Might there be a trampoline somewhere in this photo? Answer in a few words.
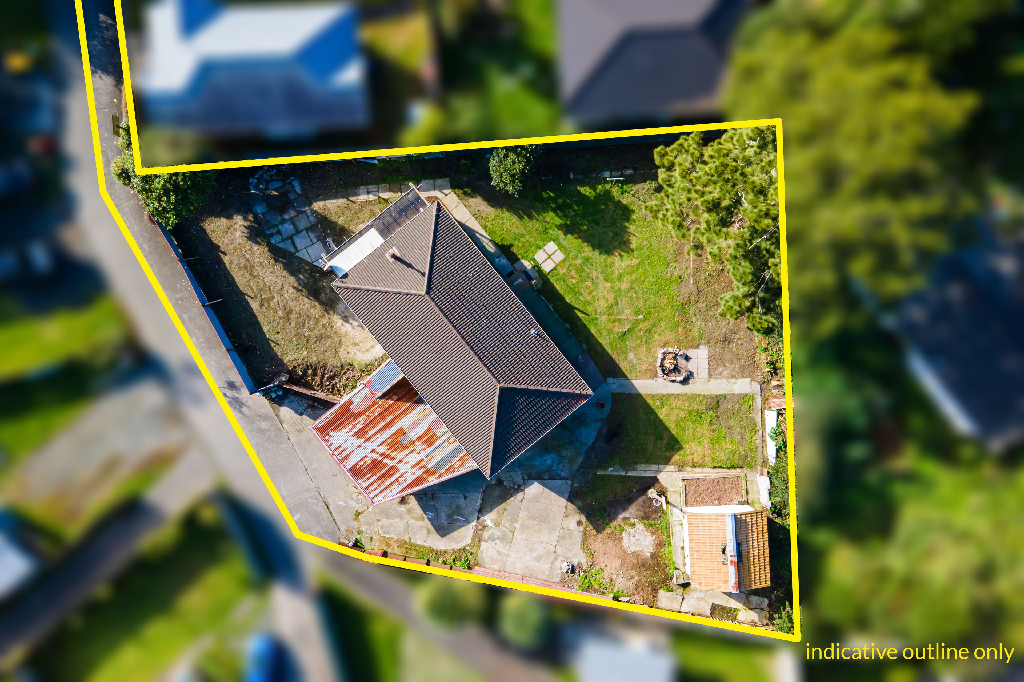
No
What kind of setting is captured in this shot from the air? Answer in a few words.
residential area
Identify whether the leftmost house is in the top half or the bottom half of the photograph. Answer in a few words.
bottom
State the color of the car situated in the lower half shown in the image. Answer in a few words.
blue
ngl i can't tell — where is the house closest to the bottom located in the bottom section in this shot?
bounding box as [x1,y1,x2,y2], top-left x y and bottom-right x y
[570,623,671,682]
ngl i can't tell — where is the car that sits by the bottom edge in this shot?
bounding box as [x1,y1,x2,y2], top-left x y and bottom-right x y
[242,631,283,682]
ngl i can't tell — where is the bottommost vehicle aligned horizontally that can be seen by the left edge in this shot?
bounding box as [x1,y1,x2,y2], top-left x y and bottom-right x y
[1,128,87,172]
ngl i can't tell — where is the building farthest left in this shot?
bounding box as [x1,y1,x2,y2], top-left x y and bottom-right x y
[0,518,54,608]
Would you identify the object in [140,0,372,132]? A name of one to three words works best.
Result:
house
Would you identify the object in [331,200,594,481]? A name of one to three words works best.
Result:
house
